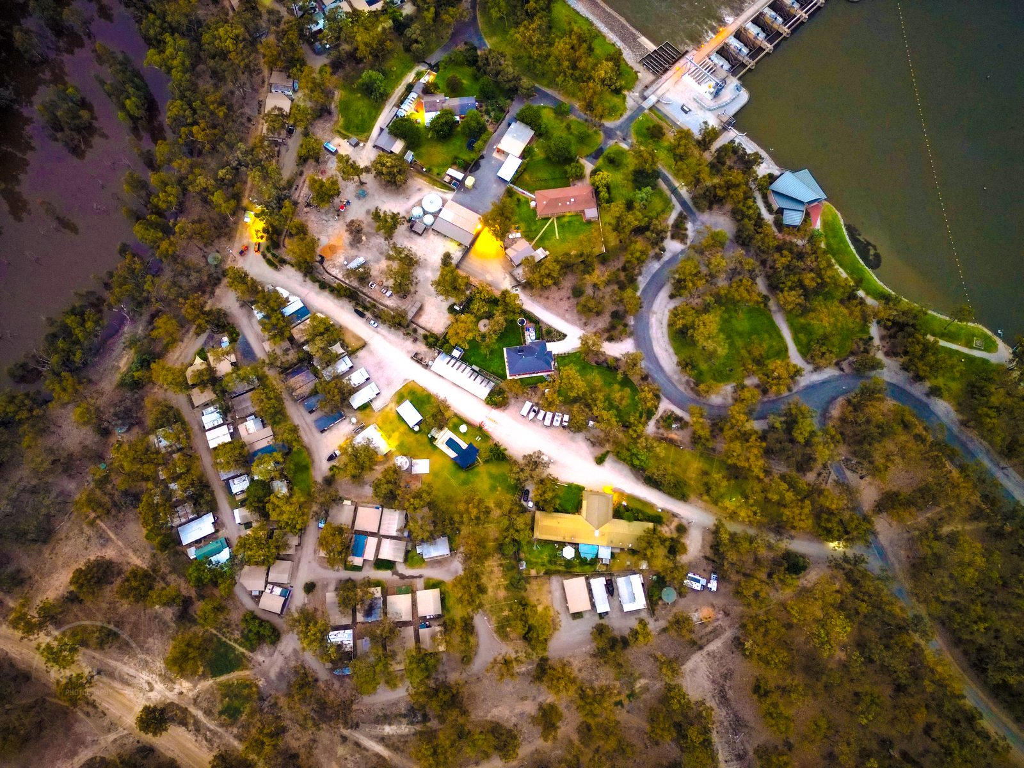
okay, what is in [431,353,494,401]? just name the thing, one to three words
shed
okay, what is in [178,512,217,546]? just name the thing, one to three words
building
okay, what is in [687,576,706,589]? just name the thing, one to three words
vehicle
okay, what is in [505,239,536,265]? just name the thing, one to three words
house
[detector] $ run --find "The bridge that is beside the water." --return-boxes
[642,0,776,110]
